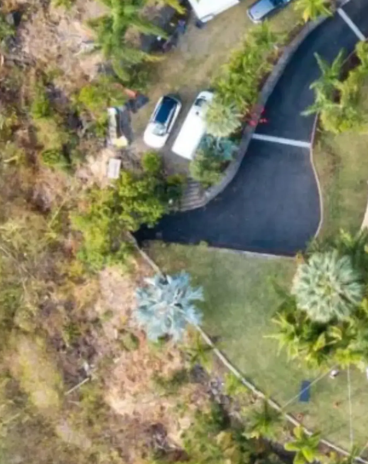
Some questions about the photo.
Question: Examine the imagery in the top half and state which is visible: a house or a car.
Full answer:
The one visible in the top half is a car.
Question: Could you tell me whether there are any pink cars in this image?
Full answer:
No, I can't see a single pink car in this photo.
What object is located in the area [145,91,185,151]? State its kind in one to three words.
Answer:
car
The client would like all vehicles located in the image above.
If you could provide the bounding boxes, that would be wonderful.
[169,88,222,163]
[184,0,253,25]
[242,0,295,27]
[145,91,185,151]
